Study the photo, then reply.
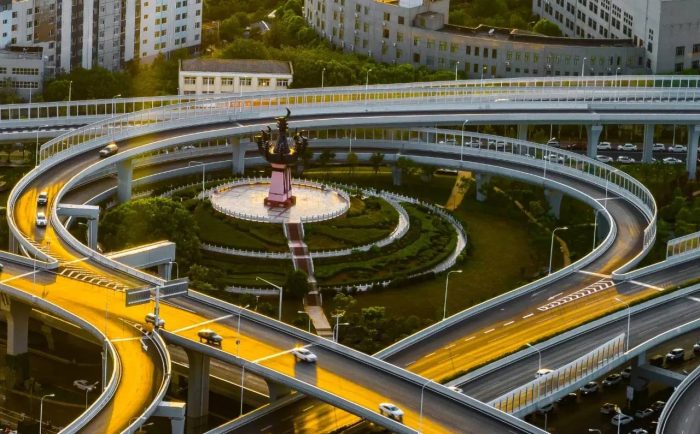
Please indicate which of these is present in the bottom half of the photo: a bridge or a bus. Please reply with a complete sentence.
The feature located in the bottom half of the photo is a bridge.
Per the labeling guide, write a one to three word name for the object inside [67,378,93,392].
vehicle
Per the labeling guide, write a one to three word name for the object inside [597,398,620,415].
car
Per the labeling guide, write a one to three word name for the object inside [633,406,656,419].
vehicle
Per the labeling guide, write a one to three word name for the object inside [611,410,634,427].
car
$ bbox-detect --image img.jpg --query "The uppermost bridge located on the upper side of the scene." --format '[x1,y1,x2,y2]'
[0,85,700,176]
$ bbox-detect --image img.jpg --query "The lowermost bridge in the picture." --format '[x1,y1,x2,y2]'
[0,252,554,434]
